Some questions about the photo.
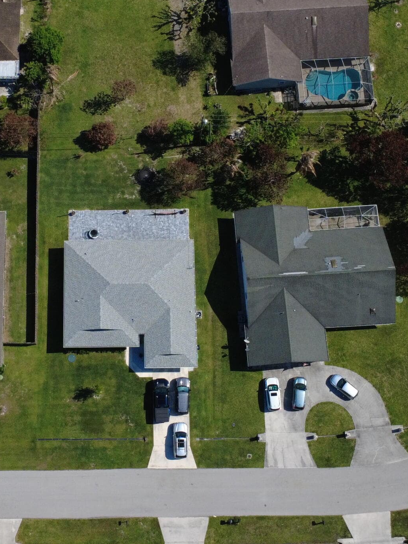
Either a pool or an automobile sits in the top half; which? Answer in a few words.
pool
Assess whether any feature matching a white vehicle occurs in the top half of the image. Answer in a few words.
No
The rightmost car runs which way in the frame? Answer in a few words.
at an angle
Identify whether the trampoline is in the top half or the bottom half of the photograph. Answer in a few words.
top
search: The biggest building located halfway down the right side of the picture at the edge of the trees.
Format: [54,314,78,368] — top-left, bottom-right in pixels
[233,204,395,367]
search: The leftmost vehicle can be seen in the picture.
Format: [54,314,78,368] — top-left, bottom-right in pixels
[153,379,172,425]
